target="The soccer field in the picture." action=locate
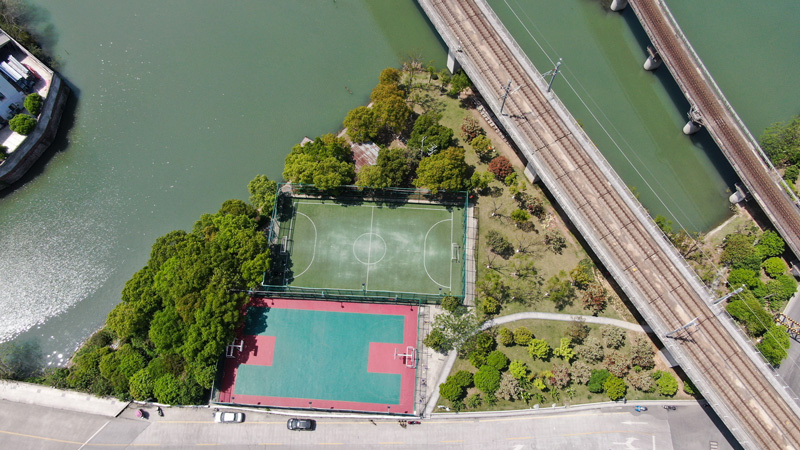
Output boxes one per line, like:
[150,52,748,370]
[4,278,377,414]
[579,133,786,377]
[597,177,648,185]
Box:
[273,198,462,303]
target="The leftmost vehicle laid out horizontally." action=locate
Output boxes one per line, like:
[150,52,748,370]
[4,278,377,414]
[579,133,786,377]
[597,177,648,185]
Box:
[215,410,245,424]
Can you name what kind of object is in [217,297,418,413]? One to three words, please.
basketball court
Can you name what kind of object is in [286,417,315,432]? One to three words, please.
car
